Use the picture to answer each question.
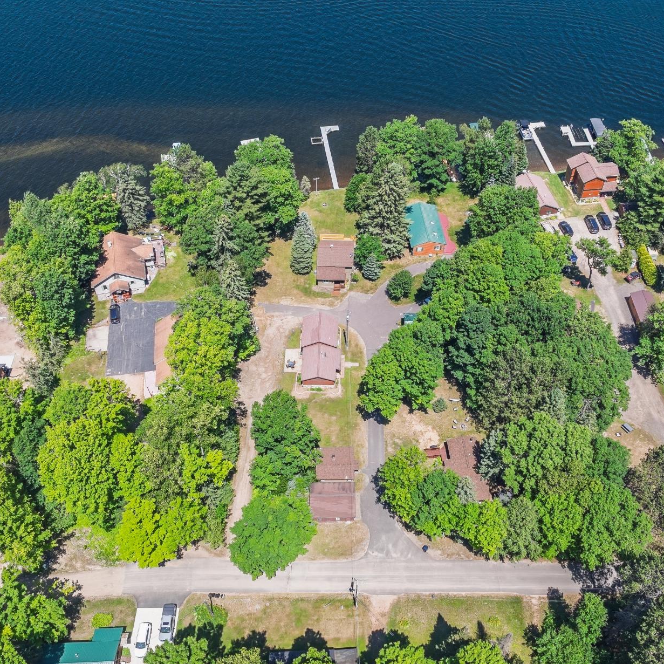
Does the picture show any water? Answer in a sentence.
Yes, there is water in the image.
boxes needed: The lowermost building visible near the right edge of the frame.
[629,291,664,333]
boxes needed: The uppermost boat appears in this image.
[517,118,532,140]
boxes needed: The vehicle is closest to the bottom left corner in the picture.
[131,622,152,659]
